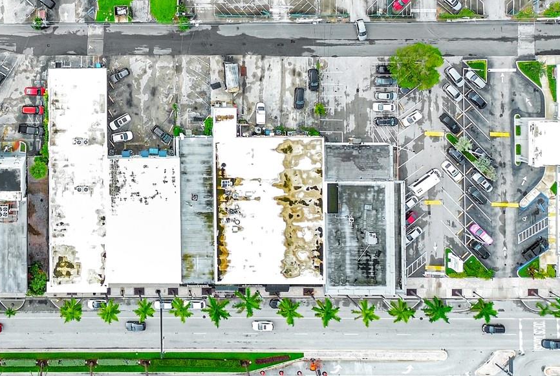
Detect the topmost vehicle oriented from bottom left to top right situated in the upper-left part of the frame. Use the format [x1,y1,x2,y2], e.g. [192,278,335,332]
[108,67,131,85]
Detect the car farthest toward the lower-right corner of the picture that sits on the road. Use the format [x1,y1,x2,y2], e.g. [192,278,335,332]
[541,339,560,351]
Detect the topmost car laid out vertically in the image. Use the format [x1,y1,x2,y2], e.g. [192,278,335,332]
[354,18,366,41]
